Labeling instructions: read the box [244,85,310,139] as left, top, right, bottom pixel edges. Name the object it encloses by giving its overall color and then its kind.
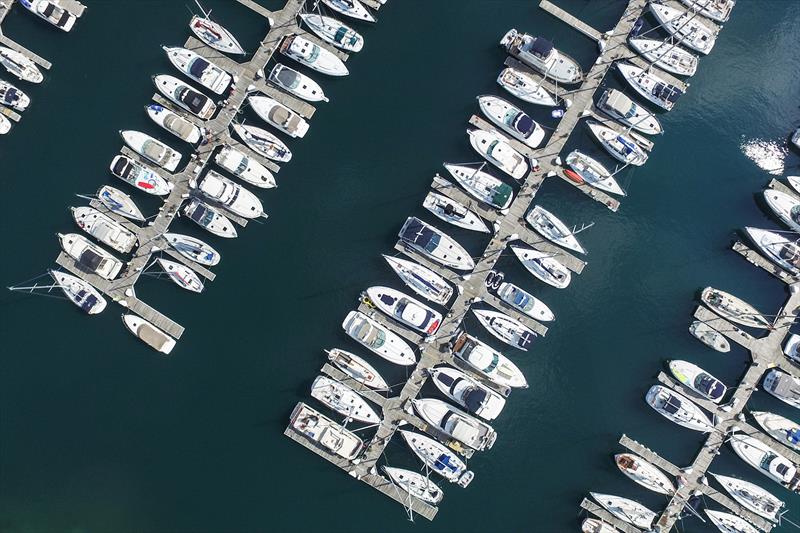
white boat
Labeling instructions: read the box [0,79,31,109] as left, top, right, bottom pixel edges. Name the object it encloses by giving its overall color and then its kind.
white boat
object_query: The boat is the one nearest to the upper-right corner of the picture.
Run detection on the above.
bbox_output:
[687,0,737,22]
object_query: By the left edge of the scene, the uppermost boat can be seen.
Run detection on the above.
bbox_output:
[12,0,76,31]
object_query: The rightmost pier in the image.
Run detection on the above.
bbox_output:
[580,178,800,533]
